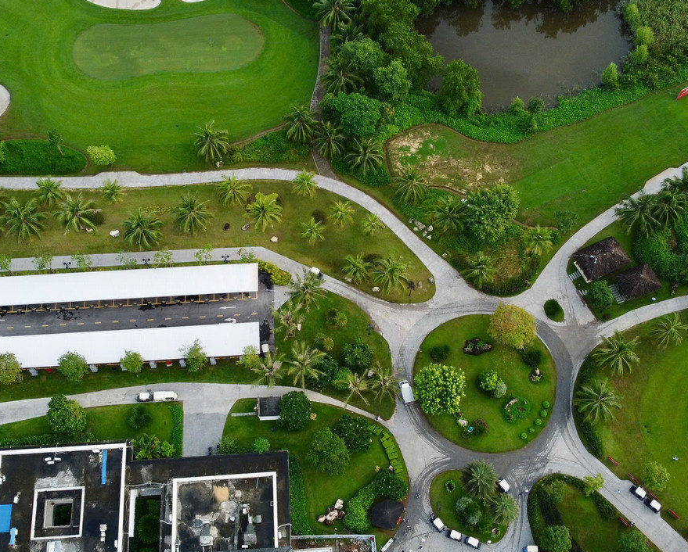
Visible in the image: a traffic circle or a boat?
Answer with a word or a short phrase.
traffic circle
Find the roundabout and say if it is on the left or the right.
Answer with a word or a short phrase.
right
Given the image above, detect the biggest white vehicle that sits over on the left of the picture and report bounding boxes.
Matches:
[152,390,180,403]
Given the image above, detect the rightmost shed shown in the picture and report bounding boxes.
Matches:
[617,263,661,300]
